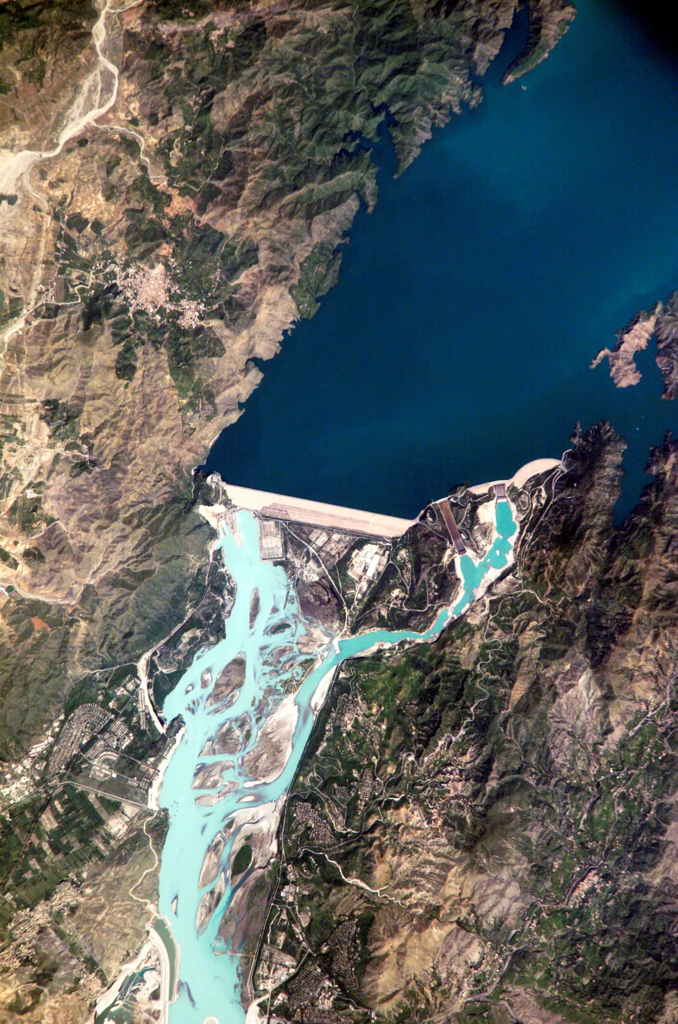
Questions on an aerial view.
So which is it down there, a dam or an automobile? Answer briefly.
dam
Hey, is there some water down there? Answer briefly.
Yes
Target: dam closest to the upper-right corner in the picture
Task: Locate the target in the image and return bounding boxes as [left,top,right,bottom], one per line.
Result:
[510,456,562,486]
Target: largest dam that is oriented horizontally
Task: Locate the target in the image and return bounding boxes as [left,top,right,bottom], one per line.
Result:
[224,481,417,539]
